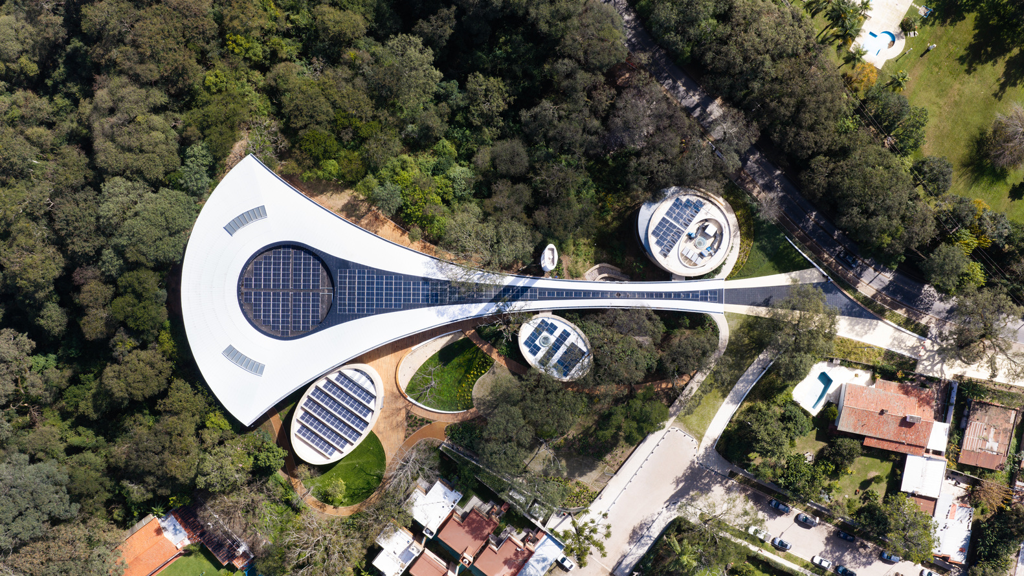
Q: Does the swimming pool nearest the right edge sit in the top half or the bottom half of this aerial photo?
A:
top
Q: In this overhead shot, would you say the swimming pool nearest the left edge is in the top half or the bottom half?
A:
bottom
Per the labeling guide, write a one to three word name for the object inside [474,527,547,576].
house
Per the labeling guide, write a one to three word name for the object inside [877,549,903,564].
vehicle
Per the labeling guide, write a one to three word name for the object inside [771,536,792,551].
car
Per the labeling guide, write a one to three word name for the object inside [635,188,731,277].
building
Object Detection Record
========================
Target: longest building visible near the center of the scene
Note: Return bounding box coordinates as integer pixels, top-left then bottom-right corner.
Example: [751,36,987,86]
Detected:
[181,153,725,428]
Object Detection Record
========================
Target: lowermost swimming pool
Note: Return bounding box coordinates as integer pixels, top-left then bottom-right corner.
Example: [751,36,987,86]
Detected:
[792,360,874,416]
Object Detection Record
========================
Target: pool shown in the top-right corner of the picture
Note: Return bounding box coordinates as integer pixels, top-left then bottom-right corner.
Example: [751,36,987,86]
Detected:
[847,0,912,71]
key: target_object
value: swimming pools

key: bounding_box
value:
[847,0,912,71]
[792,360,874,416]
